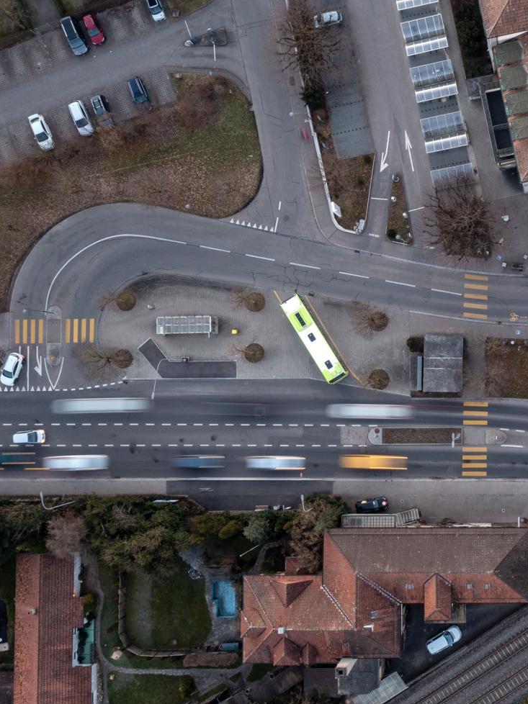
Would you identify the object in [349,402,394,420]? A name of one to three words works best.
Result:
vehicle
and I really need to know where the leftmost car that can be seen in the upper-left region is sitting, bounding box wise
[28,113,56,151]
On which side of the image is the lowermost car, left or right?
right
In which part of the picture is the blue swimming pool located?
bottom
